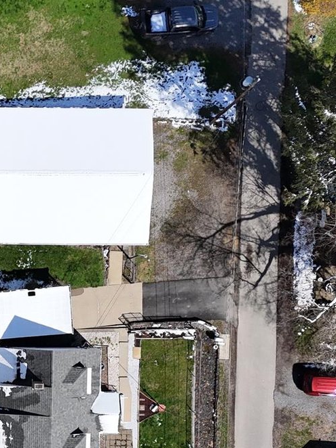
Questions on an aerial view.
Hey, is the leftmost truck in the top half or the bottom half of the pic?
top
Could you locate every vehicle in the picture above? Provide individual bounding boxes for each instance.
[299,373,336,399]
[138,1,219,38]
